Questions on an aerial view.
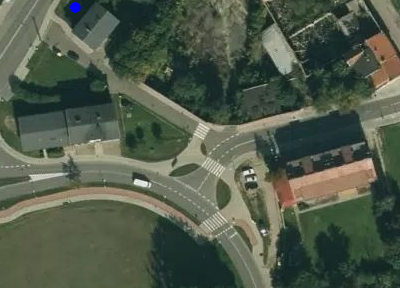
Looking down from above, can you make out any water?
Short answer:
No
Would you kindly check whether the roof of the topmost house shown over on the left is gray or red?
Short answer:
gray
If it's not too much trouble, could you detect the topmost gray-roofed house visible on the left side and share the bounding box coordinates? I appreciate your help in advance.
[72,4,119,50]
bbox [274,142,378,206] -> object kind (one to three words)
house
